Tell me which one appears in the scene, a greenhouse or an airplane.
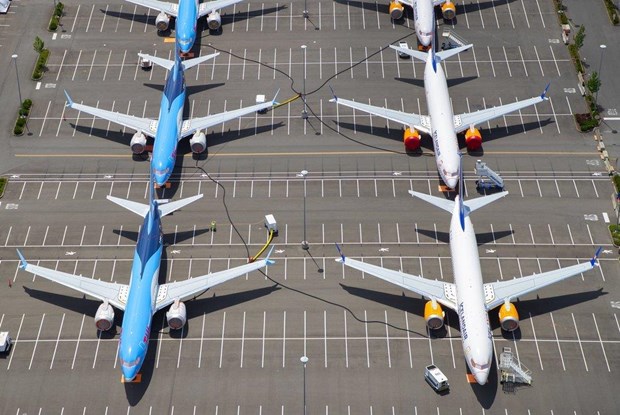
airplane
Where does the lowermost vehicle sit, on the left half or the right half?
right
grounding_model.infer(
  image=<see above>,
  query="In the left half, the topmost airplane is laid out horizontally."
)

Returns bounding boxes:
[123,0,245,53]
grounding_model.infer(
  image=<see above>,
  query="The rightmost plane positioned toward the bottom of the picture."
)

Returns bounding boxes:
[334,150,601,385]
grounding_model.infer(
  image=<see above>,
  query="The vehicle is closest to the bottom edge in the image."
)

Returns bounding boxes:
[427,367,452,391]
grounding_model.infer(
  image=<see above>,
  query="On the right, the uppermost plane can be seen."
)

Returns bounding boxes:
[389,0,455,46]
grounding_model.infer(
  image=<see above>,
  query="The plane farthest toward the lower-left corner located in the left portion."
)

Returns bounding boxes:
[18,154,275,380]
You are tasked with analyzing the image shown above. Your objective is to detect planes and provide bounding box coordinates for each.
[334,150,601,385]
[123,0,245,53]
[18,154,275,380]
[64,17,280,187]
[389,0,455,46]
[328,11,550,186]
